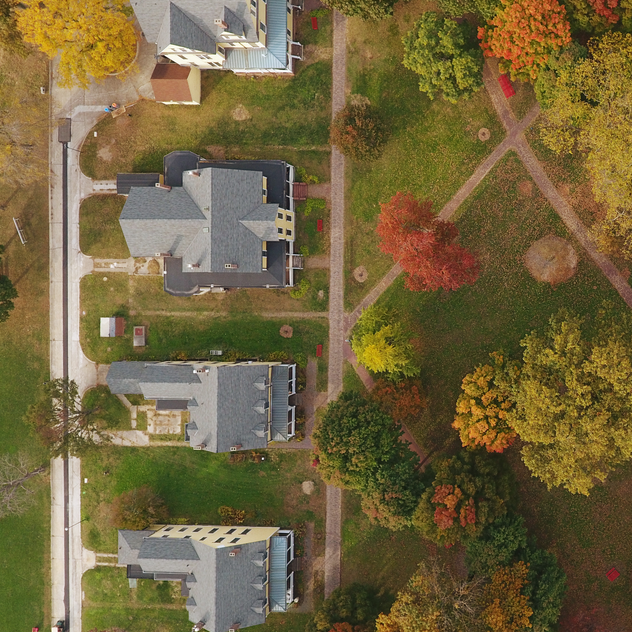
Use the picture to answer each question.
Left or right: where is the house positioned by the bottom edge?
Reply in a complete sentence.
The house positioned by the bottom edge sits on the left side.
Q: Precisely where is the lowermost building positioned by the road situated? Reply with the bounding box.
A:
[118,525,301,632]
